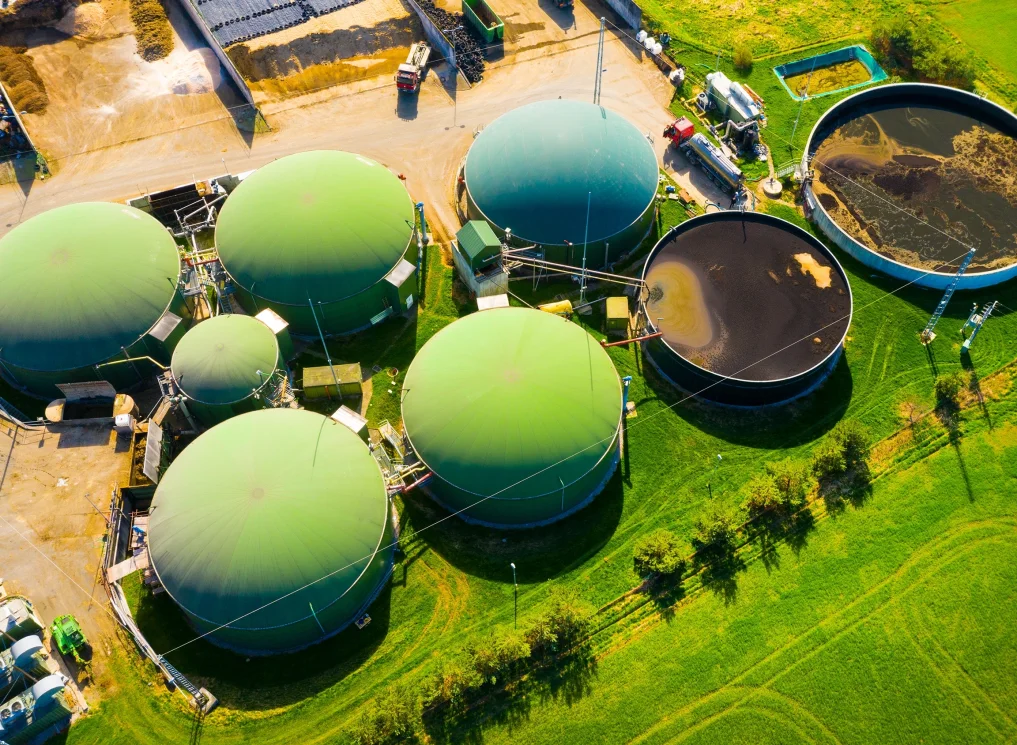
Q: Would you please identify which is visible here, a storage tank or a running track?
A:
storage tank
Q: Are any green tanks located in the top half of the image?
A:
Yes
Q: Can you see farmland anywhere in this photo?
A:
Yes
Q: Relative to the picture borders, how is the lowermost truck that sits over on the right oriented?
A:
diagonally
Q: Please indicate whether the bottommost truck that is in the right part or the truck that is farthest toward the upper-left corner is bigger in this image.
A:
the bottommost truck that is in the right part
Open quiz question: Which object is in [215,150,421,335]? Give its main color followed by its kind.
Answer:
green storage tank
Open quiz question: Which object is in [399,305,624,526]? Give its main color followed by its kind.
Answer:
green storage tank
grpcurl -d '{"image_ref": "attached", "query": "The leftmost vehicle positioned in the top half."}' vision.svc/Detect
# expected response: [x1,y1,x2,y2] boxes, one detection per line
[392,38,429,93]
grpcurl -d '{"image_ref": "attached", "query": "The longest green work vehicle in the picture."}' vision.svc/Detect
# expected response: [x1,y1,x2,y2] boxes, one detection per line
[50,607,93,669]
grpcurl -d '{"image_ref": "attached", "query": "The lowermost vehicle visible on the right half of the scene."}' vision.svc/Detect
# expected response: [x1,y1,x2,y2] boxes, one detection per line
[665,114,747,196]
